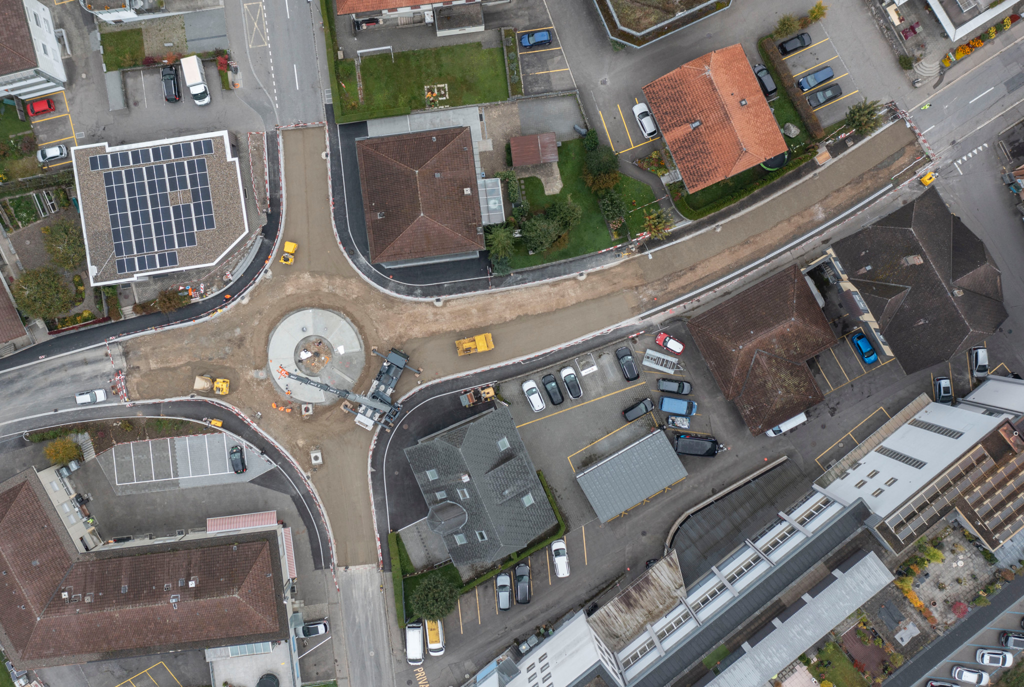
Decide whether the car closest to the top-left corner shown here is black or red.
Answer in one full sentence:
The car closest to the top-left corner looks red in the image.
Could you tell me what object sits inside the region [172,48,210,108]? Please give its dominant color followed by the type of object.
white truck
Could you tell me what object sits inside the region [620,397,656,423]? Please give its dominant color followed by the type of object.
gray car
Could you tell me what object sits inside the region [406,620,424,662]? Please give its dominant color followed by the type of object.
white vehicle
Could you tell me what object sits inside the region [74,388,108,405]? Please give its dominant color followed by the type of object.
white car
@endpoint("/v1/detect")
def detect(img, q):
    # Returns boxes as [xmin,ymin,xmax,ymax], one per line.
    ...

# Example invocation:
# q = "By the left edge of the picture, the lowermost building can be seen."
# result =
[0,462,297,670]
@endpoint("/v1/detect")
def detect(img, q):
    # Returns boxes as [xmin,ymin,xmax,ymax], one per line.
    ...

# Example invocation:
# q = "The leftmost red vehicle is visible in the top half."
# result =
[25,97,58,117]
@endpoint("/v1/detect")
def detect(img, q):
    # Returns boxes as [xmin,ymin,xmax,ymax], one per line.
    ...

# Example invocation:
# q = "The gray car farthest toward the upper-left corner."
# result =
[35,143,71,163]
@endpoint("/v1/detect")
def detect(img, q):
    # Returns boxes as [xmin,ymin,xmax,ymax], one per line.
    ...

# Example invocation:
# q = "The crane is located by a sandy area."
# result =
[272,348,422,430]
